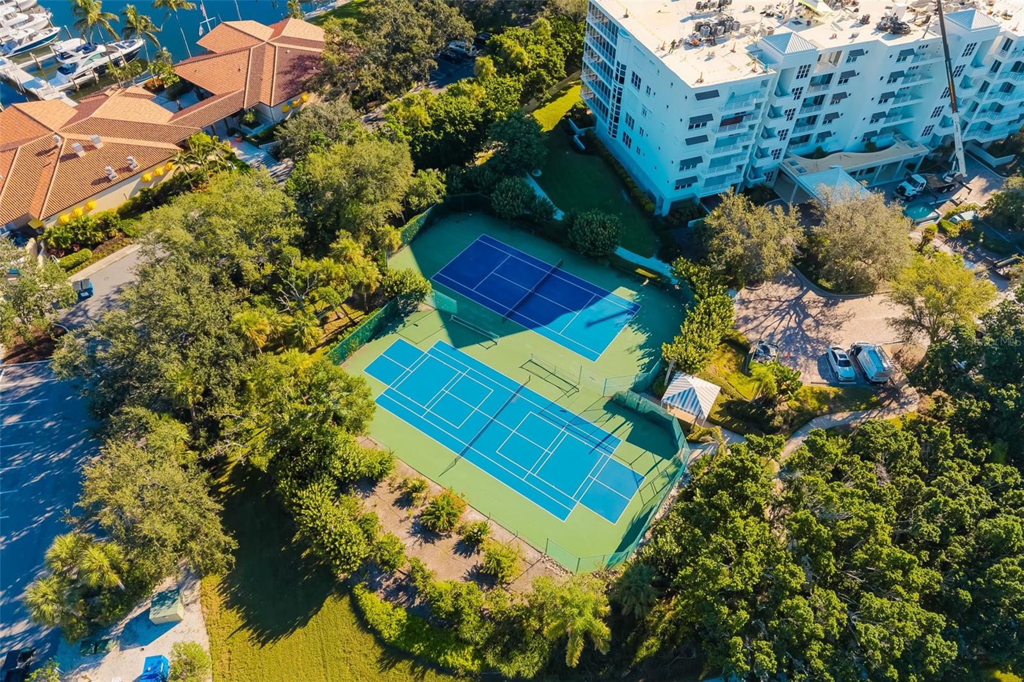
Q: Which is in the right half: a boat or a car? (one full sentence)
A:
You can see a car in the right half.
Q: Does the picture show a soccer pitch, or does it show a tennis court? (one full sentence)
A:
Of the two, only a tennis court appears.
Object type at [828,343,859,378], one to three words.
car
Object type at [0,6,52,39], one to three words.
boat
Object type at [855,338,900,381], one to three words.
van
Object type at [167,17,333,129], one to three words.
building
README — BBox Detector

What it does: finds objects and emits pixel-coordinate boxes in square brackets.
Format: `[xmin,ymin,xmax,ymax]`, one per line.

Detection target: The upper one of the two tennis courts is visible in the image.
[389,210,684,398]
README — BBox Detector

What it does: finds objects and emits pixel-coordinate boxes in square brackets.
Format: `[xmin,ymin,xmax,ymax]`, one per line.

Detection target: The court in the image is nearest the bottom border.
[332,305,683,573]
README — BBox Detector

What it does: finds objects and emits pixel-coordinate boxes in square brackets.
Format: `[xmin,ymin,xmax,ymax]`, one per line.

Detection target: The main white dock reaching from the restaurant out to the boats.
[0,54,82,109]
